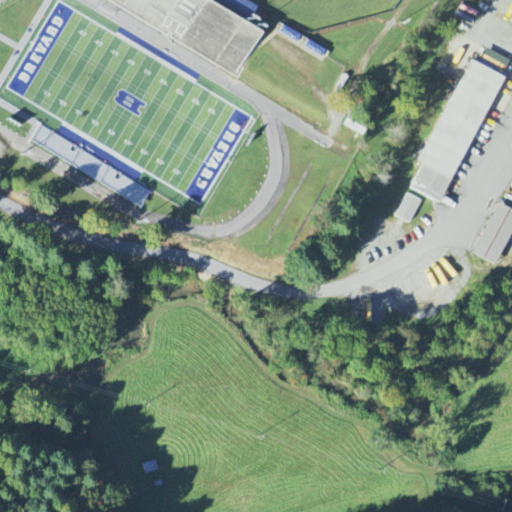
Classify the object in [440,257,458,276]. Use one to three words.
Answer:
vehicle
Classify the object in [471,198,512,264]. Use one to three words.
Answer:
building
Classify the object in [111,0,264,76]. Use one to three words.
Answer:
building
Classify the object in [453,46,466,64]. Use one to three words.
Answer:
vehicle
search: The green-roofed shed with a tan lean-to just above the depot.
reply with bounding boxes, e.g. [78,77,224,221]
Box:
[482,42,512,72]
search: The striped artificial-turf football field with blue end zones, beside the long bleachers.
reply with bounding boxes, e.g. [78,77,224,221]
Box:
[0,0,259,213]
